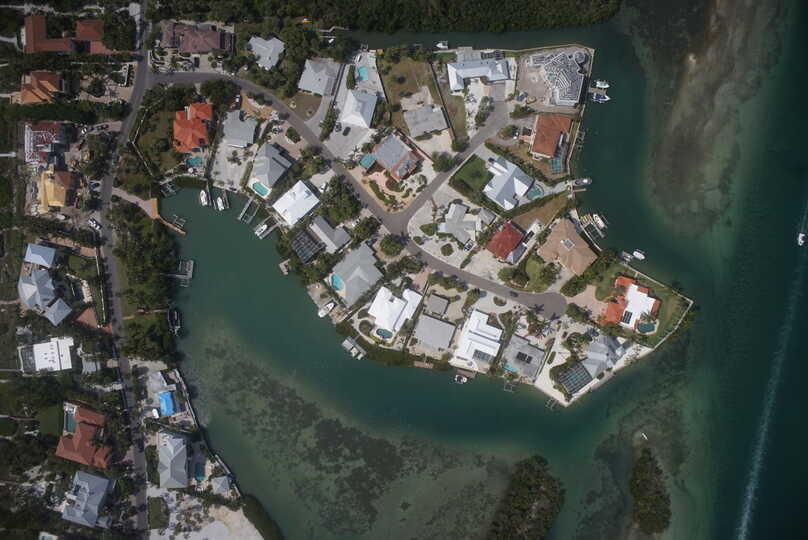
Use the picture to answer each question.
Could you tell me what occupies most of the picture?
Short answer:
water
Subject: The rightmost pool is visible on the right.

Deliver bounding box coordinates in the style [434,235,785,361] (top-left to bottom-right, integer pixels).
[638,321,656,334]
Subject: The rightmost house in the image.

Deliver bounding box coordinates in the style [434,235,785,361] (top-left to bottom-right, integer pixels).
[601,278,661,329]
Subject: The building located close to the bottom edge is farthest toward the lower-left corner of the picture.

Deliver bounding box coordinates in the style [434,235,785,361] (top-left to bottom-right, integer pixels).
[62,471,114,528]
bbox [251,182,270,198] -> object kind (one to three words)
swimming pool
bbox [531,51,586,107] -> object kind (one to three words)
house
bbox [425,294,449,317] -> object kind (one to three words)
building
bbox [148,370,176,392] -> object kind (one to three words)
house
